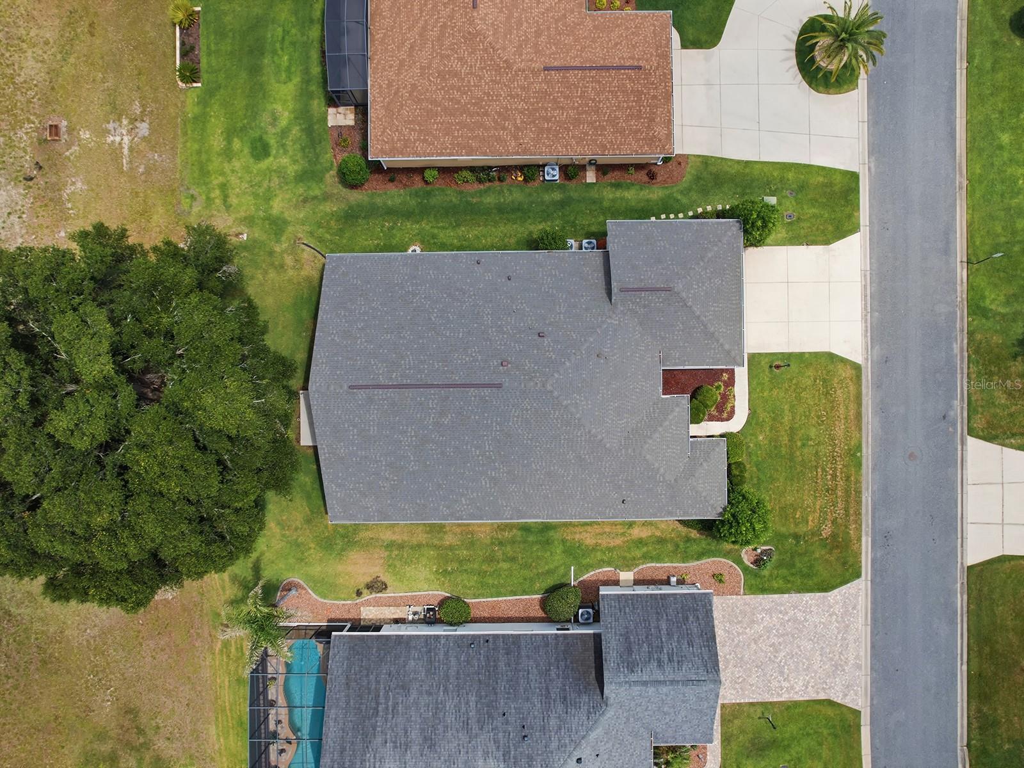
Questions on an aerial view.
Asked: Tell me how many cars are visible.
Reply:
0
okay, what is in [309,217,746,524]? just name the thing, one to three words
house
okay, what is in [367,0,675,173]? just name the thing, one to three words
house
